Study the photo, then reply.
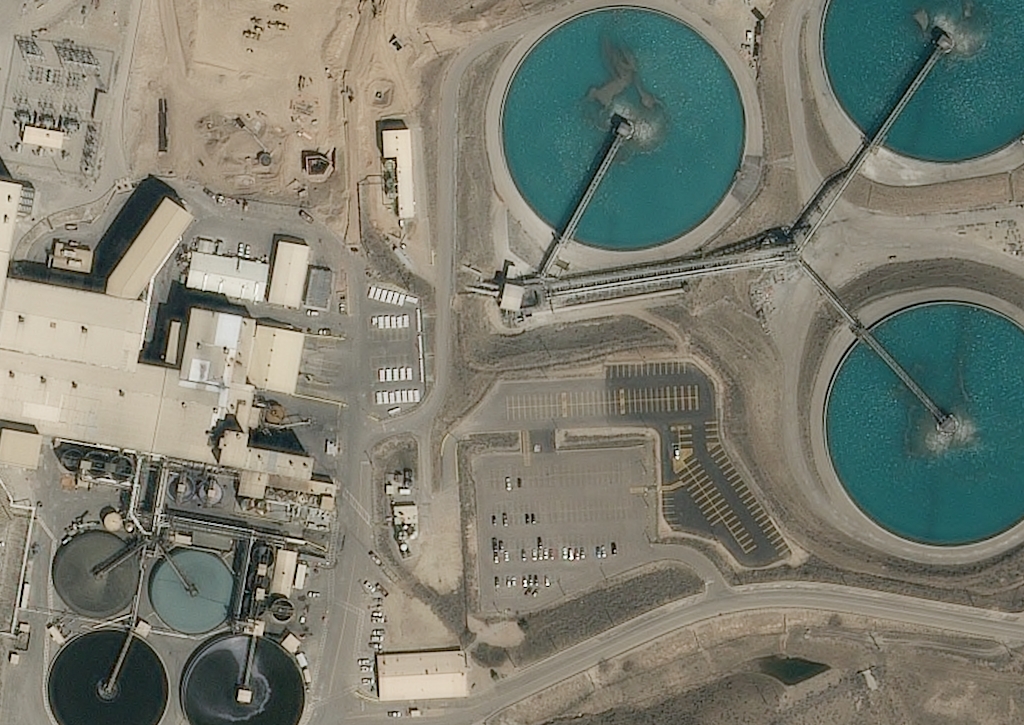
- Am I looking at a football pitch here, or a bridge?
bridge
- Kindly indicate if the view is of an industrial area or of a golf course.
industrial area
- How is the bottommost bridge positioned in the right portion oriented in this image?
on a diagonal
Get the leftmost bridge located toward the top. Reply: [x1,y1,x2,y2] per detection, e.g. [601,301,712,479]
[538,132,619,283]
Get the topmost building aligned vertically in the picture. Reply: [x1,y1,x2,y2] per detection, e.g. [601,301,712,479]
[383,129,414,218]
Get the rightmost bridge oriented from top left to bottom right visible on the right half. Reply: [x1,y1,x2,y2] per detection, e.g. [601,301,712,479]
[798,256,944,421]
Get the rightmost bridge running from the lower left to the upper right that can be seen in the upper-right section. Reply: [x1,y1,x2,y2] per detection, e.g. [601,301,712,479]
[796,45,938,246]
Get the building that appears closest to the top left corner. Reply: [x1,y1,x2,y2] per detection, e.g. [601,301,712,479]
[23,126,64,150]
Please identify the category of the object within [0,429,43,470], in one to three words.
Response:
building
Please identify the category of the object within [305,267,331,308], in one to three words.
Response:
shed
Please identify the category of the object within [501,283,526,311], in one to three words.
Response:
building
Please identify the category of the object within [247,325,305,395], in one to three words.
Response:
shed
